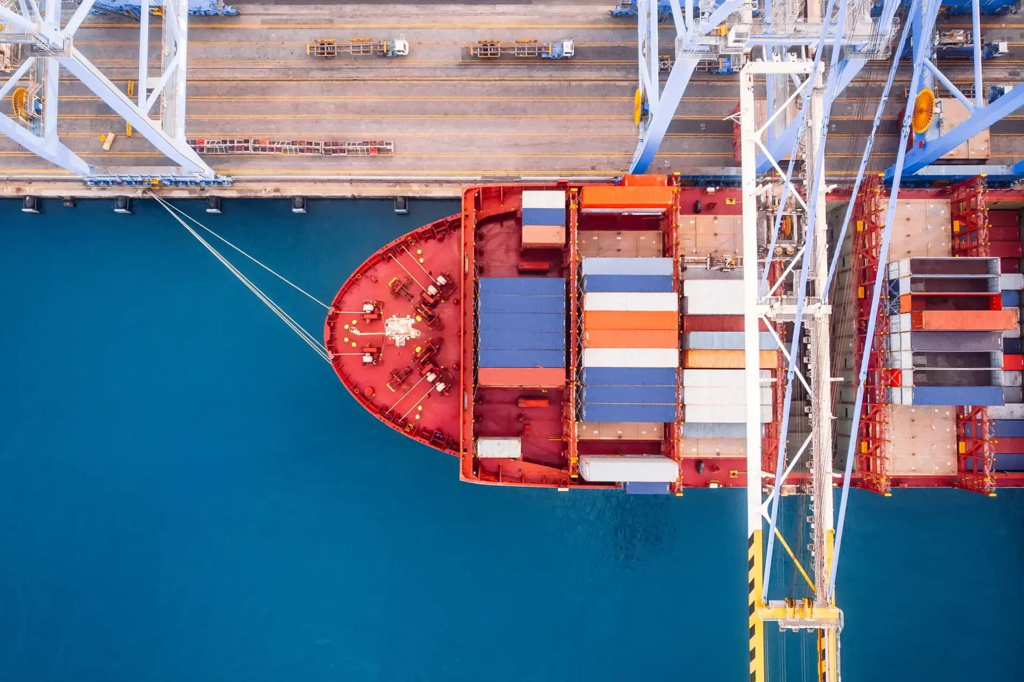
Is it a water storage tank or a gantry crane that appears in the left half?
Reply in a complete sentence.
Visible in the left half is a gantry crane.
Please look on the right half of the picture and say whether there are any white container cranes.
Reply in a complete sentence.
Yes, the scene does show a white container crane on the right half of the picture.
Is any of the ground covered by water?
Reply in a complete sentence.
Yes, the picture does contain water.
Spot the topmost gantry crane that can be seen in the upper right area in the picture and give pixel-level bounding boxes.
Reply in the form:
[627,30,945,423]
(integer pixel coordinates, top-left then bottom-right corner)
[862,0,1024,185]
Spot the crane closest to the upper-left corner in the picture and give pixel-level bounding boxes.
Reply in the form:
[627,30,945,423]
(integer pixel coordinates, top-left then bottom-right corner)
[0,0,244,188]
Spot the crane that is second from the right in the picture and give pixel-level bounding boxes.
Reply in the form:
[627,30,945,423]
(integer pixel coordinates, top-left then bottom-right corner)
[596,0,937,682]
